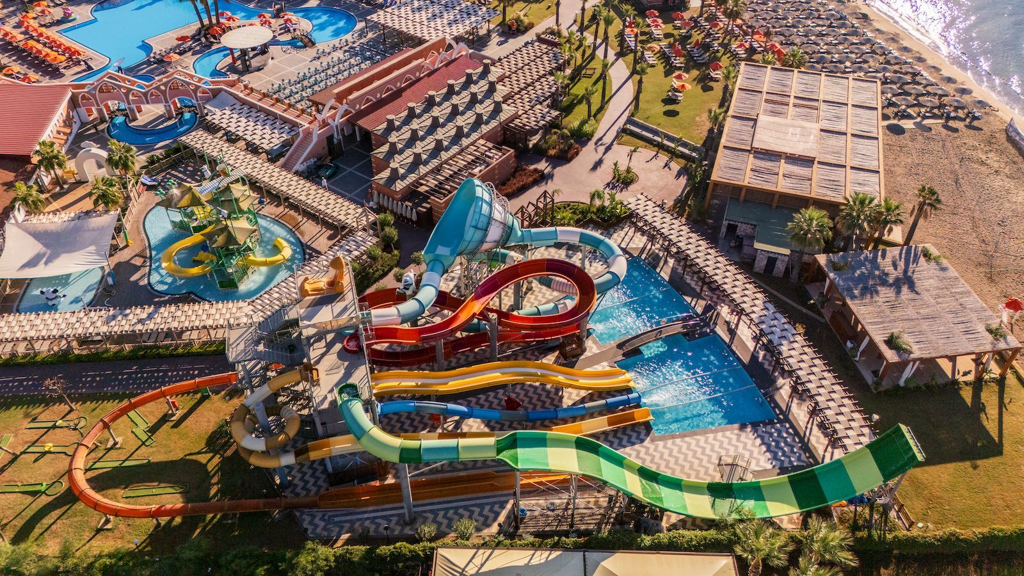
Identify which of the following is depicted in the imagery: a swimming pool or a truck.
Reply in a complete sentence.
Looking from above, you can make out a swimming pool.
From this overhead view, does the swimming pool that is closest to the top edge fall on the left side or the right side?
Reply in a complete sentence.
The swimming pool that is closest to the top edge sits on the left side.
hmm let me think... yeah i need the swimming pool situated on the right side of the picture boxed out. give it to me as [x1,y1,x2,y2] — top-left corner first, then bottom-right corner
[592,259,774,434]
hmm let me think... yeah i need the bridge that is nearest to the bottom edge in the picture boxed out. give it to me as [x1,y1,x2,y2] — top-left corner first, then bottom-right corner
[612,311,715,357]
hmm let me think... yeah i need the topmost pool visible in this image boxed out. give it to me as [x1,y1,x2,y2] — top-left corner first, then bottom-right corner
[59,0,356,87]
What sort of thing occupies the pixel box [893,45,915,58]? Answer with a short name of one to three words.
umbrella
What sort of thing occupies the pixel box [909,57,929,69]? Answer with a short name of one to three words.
umbrella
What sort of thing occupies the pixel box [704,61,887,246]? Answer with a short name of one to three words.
building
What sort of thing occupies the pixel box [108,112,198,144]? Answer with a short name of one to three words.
swimming pool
